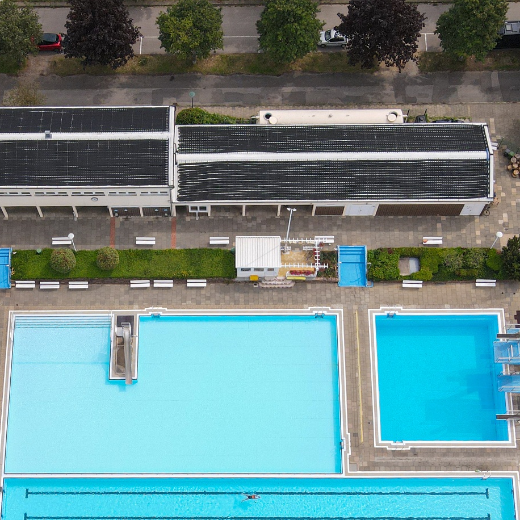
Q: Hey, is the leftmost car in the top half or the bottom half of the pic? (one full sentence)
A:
You can find the leftmost car in the top half.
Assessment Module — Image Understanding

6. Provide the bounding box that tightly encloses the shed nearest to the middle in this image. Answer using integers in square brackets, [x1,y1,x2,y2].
[234,236,280,285]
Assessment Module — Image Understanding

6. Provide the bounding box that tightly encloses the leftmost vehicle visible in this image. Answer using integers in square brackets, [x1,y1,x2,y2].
[31,33,65,53]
